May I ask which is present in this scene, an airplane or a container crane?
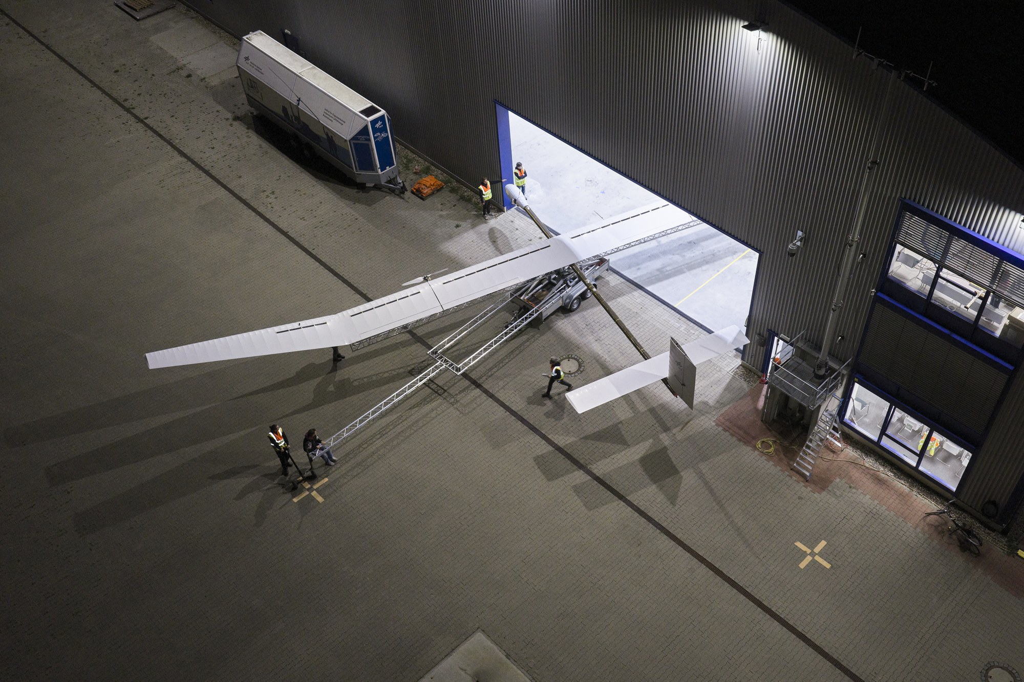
airplane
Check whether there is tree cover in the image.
No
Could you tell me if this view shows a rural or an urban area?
urban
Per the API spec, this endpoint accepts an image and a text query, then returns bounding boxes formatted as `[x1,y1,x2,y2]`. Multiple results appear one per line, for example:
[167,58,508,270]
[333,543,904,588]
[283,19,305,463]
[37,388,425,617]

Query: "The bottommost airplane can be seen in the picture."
[145,183,748,413]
